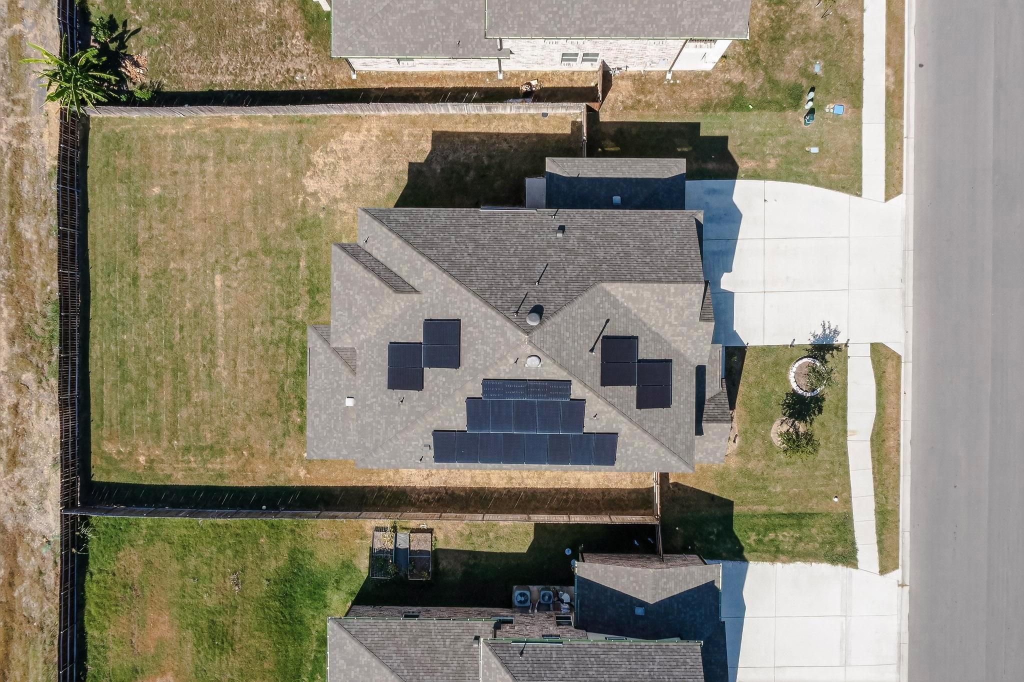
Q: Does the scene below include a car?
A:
No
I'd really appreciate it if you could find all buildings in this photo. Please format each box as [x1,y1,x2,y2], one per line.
[324,548,728,682]
[317,0,753,76]
[304,156,731,473]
